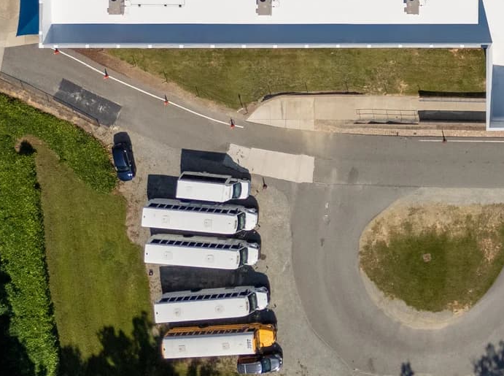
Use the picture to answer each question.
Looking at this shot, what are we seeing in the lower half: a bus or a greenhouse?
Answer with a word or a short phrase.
bus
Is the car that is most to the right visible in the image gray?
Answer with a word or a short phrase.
Yes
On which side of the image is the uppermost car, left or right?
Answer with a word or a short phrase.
left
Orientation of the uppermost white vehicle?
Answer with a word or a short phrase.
horizontally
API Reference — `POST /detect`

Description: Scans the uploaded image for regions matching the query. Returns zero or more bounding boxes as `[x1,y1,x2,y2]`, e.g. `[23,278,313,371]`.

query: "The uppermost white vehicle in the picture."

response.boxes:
[177,174,255,206]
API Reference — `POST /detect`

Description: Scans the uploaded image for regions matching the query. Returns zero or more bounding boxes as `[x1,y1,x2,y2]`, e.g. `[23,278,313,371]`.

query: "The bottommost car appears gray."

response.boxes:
[237,352,283,374]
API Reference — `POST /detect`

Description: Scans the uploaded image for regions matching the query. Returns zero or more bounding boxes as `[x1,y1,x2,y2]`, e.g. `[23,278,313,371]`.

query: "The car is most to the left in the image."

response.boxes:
[113,137,137,182]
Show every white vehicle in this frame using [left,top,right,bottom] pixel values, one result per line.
[145,235,263,271]
[143,201,262,236]
[154,287,274,321]
[177,174,255,206]
[162,322,281,357]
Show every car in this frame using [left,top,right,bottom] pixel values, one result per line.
[237,352,283,374]
[113,137,137,182]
